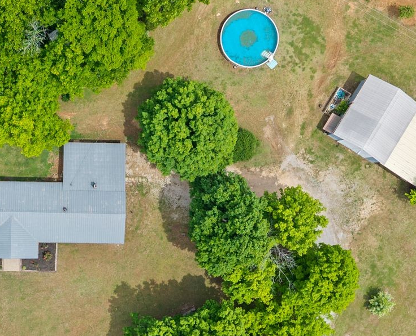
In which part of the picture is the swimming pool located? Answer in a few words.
top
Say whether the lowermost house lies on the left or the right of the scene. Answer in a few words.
left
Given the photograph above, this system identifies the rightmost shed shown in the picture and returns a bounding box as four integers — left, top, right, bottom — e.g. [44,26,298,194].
[315,74,416,185]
